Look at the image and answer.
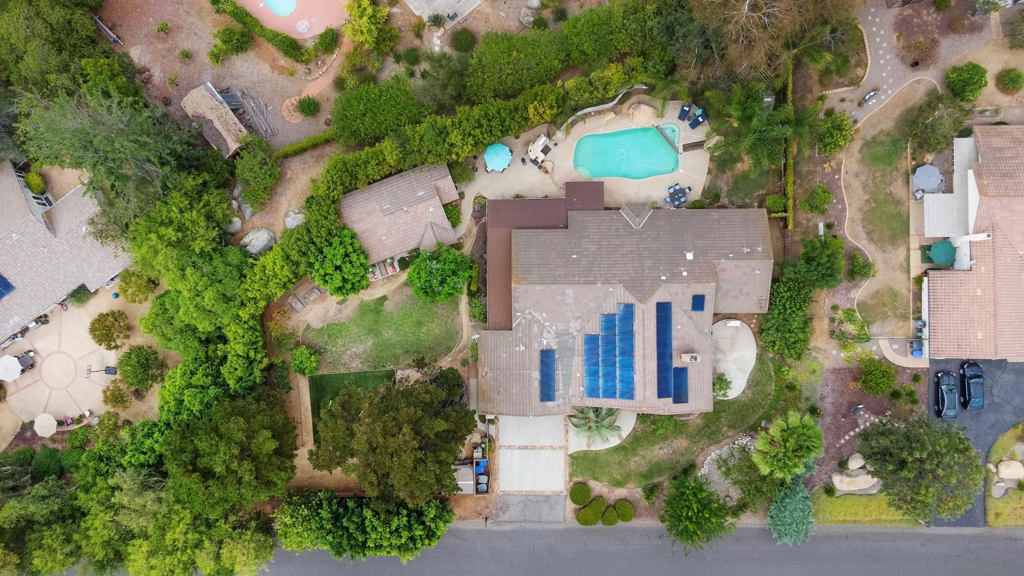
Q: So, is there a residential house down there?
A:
Yes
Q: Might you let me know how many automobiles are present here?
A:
two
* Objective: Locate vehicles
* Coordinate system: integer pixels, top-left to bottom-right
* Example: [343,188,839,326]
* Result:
[957,360,985,410]
[932,369,959,419]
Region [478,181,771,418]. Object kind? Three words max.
house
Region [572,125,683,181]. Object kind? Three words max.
swimming pool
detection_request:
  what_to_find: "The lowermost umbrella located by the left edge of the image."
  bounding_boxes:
[30,414,61,438]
